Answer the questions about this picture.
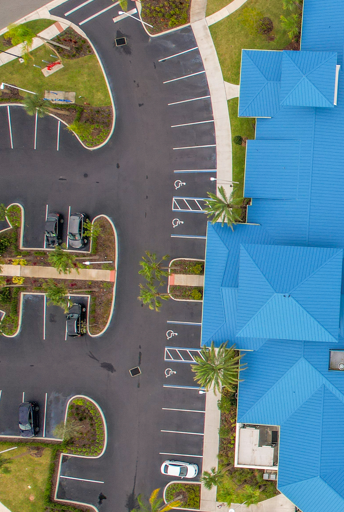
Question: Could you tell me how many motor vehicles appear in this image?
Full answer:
In total, there are 5 motor vehicles in the scene.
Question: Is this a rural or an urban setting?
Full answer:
The area is urban.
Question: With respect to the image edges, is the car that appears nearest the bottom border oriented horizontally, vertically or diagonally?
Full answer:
The car that appears nearest the bottom border is oriented horizontally.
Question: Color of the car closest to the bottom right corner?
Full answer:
The color of the car closest to the bottom right corner is white.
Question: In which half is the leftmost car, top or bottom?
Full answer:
You can find the leftmost car in the bottom half.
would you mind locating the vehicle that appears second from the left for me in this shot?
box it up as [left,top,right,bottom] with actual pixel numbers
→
[37,212,59,249]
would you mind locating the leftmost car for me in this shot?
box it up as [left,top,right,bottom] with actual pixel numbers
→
[11,403,34,440]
